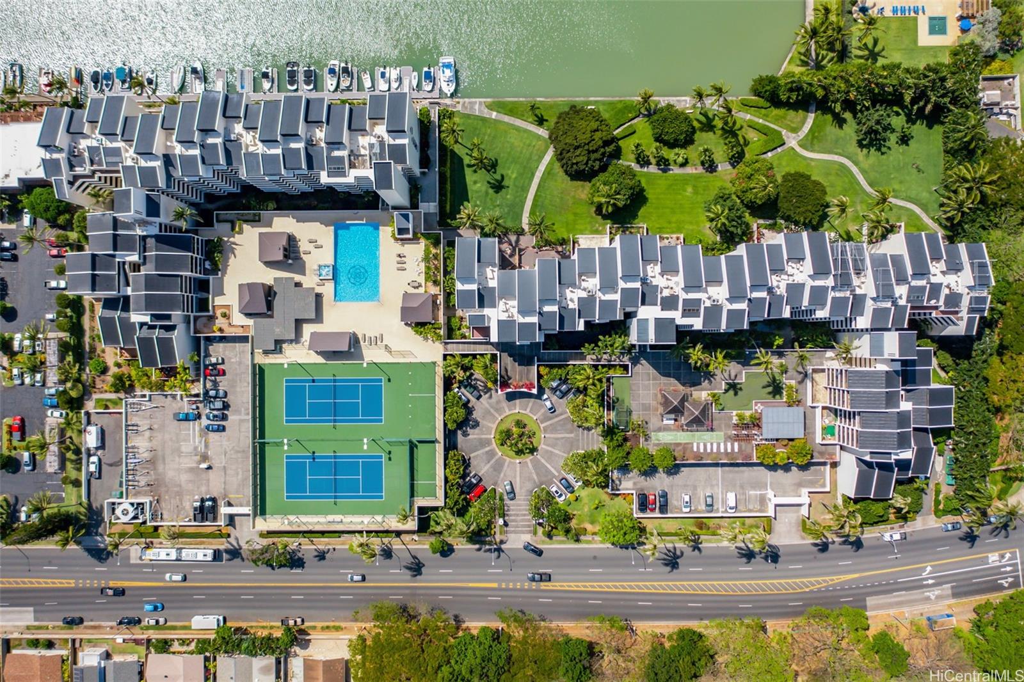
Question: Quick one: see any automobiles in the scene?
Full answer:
Yes, the frame does contain an automobile.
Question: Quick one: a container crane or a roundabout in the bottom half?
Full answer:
There is a roundabout in the bottom half.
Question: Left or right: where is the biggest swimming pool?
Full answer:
The biggest swimming pool is on the left side of the image.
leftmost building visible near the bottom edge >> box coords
[4,649,70,682]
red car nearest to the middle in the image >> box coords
[471,484,486,500]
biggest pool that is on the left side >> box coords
[334,221,381,305]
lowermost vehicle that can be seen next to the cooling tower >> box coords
[137,548,219,563]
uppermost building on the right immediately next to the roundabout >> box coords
[455,231,995,358]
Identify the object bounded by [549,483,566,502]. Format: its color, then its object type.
white car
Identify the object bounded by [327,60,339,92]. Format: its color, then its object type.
white boat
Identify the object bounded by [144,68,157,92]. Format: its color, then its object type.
white boat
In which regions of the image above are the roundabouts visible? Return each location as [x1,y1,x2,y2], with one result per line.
[449,377,599,536]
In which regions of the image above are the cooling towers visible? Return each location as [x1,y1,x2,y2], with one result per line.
[105,497,159,523]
